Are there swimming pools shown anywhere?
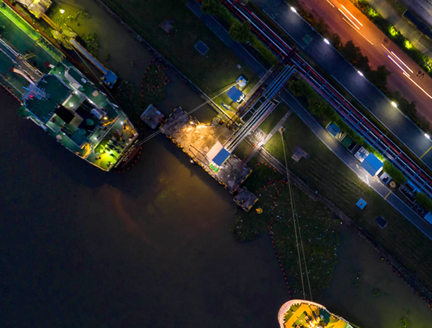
No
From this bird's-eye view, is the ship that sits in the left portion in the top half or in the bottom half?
top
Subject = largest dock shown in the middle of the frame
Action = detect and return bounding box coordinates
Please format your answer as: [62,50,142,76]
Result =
[162,105,254,194]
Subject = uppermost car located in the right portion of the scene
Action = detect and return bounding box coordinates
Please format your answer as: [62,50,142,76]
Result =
[343,8,359,24]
